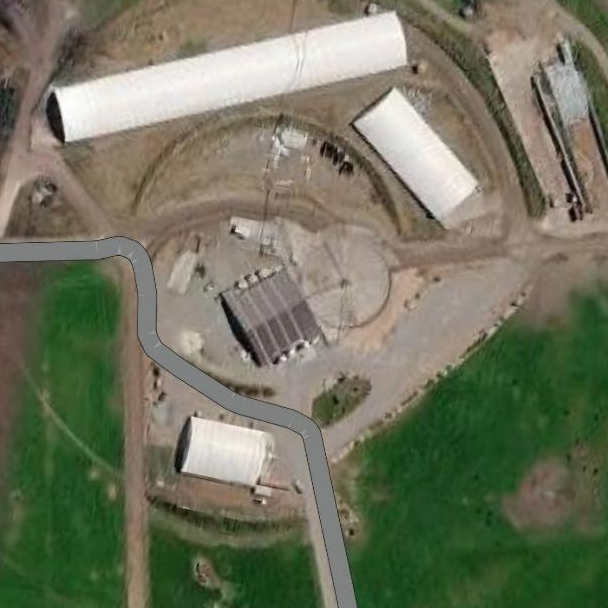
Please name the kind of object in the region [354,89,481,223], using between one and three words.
barn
